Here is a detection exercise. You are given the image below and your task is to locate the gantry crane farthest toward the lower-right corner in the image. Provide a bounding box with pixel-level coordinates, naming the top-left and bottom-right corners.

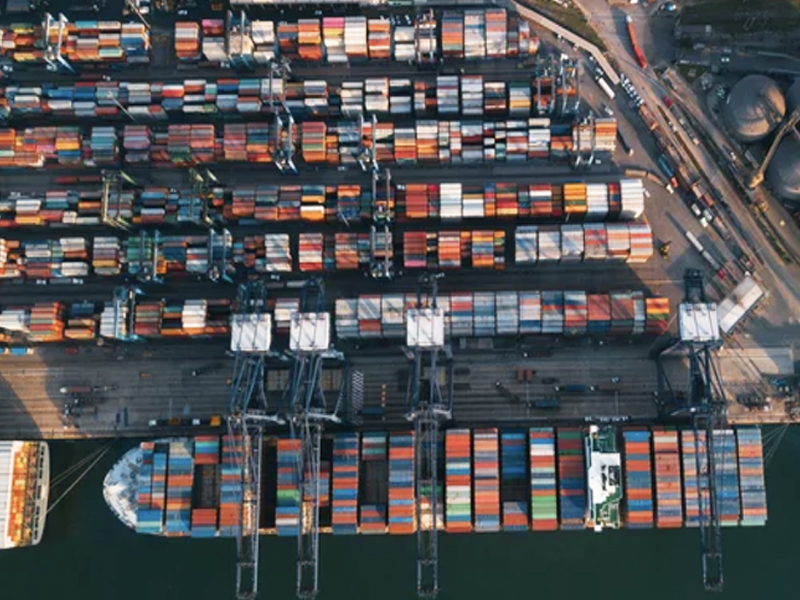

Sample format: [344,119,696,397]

[646,264,730,600]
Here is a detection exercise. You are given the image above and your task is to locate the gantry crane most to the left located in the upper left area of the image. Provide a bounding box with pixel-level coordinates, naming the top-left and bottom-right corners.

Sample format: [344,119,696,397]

[43,12,78,73]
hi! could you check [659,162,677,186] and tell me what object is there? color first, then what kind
blue vehicle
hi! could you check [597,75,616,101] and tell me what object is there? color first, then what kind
white vehicle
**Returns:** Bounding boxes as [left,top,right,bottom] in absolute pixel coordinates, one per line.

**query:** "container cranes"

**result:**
[371,227,395,282]
[571,111,595,169]
[43,12,78,73]
[209,227,239,281]
[288,277,356,600]
[359,112,382,172]
[269,64,295,123]
[373,169,395,226]
[112,289,151,341]
[646,264,730,600]
[229,8,255,73]
[528,60,555,121]
[139,230,172,285]
[102,171,138,227]
[553,57,579,120]
[402,273,459,600]
[228,279,300,600]
[276,113,302,173]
